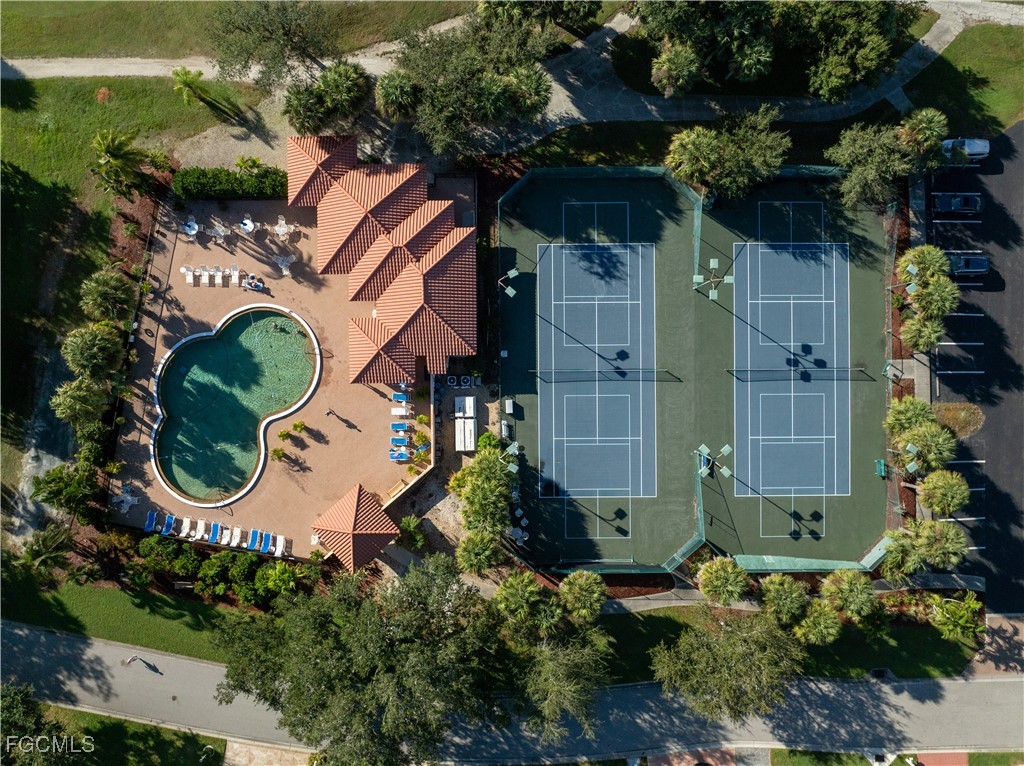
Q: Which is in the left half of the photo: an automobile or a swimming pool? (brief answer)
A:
swimming pool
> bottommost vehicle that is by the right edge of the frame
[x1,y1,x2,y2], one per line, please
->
[940,253,991,278]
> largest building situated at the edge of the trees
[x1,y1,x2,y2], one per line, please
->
[286,135,477,384]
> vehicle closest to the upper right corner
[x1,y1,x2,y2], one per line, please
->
[936,138,990,164]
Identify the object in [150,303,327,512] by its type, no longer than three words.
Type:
swimming pool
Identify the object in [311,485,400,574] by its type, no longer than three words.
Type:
gazebo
